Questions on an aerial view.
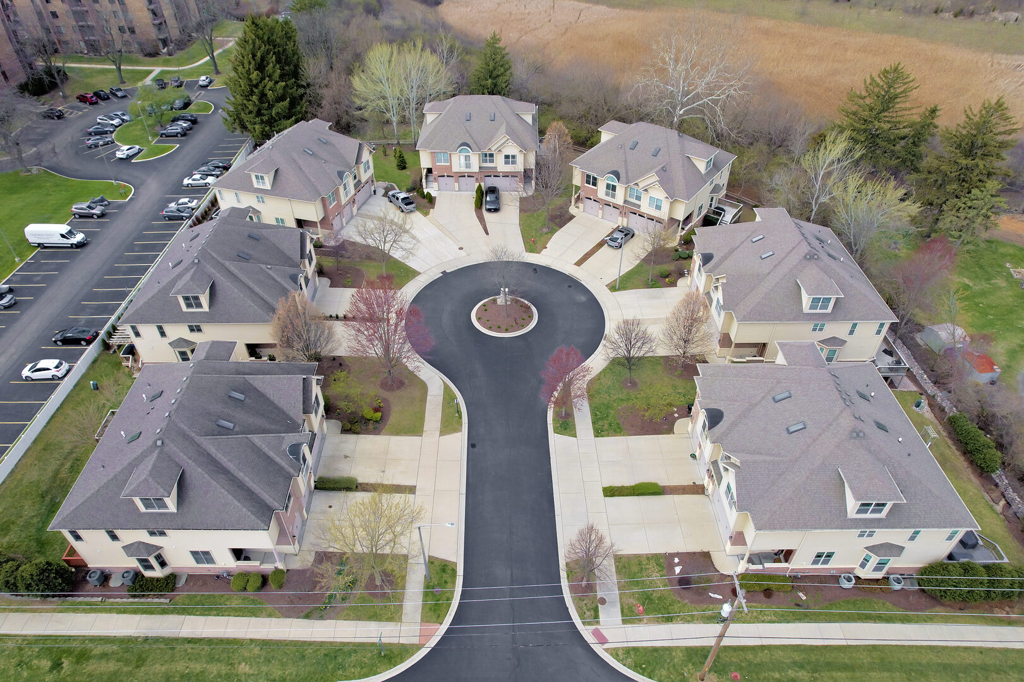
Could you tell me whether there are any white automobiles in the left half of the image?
Yes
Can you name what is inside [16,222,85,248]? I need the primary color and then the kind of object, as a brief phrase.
white vehicle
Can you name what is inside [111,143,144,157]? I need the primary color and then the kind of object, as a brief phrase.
white car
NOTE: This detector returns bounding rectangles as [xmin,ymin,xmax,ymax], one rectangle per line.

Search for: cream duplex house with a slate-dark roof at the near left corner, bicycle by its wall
[49,348,335,582]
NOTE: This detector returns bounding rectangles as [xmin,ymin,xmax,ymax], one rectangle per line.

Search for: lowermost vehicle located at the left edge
[16,356,70,379]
